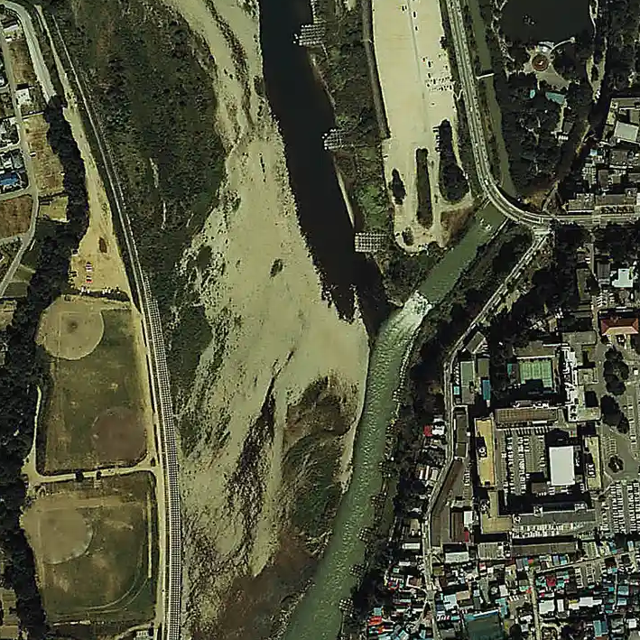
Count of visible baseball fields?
2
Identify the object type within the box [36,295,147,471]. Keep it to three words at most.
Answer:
baseball field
